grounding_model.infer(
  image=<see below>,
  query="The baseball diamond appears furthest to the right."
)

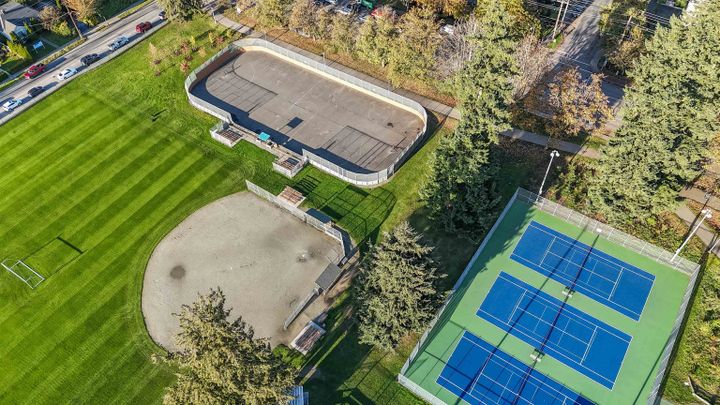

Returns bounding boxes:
[136,190,346,366]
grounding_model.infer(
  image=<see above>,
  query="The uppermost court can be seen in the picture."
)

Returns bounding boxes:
[181,37,430,186]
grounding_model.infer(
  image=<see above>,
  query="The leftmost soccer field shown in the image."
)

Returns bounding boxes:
[0,84,233,405]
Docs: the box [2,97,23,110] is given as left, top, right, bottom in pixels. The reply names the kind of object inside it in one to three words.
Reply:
vehicle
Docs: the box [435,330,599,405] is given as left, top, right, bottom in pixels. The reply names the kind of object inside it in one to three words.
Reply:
tennis court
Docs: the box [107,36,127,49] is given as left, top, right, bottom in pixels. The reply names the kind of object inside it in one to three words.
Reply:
vehicle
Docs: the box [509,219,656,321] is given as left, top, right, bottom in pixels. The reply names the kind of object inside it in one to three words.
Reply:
tennis court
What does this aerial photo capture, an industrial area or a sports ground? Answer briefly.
sports ground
